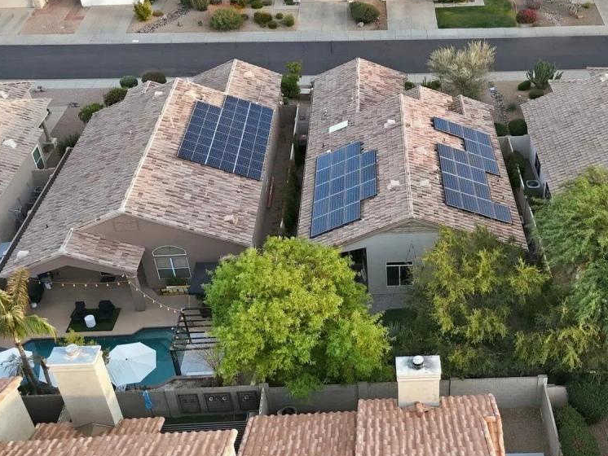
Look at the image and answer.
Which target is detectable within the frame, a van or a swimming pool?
swimming pool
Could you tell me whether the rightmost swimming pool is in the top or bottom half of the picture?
bottom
